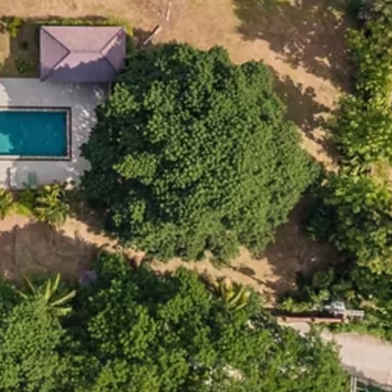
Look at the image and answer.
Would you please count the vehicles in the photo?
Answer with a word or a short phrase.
zero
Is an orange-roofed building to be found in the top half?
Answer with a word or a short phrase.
No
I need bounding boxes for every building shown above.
[37,26,127,81]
